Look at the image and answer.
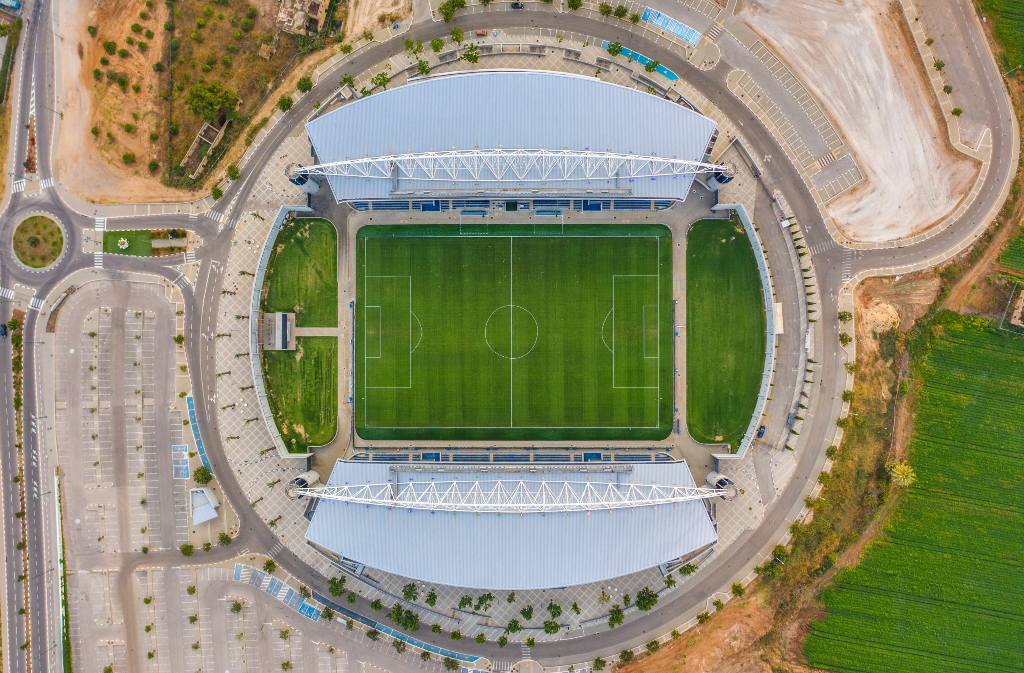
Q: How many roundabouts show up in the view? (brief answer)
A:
1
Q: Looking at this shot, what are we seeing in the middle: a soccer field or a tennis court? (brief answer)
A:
soccer field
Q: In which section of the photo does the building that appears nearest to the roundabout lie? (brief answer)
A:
top left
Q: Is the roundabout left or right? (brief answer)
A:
left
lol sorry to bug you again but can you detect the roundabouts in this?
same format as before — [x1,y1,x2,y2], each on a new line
[7,211,69,273]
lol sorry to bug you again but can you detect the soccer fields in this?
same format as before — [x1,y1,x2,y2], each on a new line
[356,225,673,440]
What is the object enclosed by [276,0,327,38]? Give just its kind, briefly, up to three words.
building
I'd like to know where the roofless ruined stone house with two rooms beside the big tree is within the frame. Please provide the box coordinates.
[177,120,228,178]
